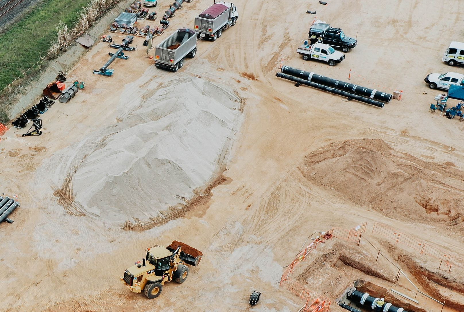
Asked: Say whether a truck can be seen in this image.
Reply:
Yes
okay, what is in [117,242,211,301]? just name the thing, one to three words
work vehicle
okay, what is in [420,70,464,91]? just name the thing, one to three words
vehicle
